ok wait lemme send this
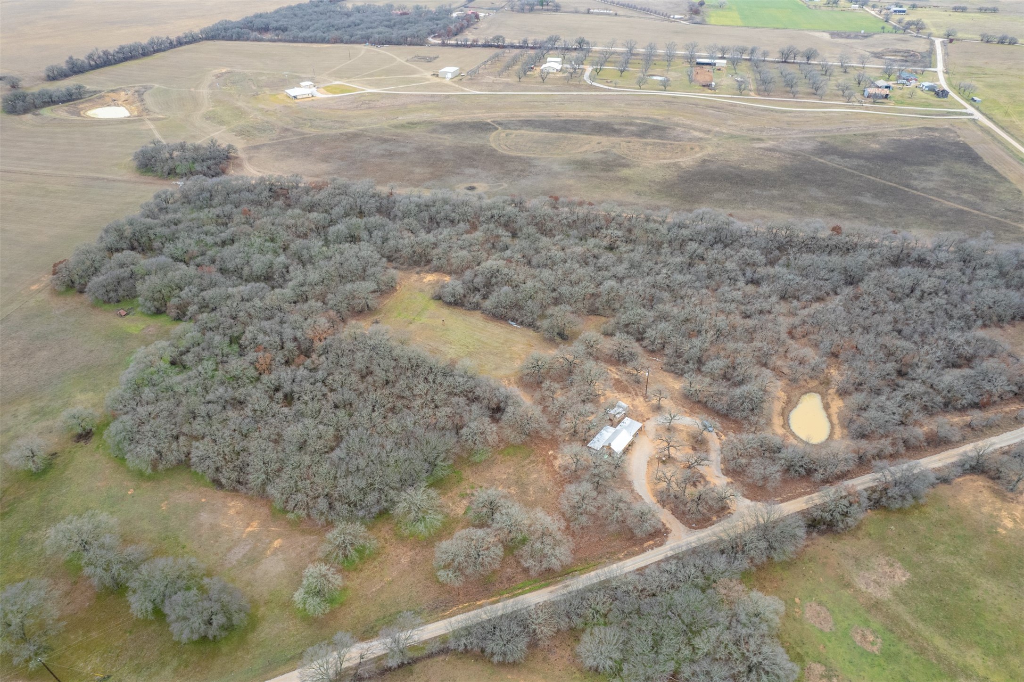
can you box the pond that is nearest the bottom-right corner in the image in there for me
[789,394,831,445]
